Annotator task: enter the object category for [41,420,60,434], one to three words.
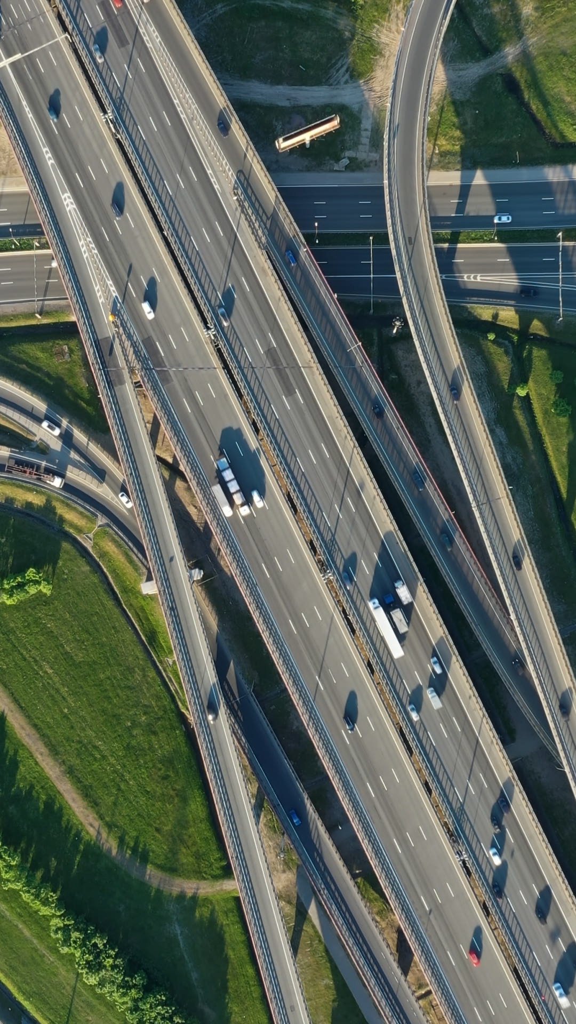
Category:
car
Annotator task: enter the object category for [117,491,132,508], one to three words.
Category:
car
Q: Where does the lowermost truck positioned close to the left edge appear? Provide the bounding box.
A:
[2,461,65,487]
